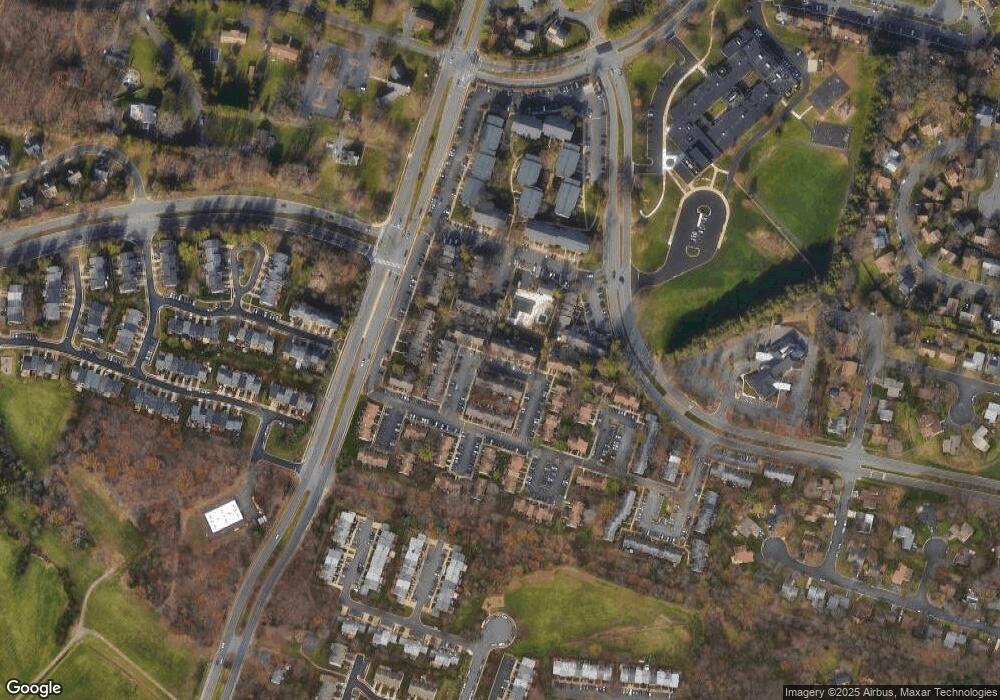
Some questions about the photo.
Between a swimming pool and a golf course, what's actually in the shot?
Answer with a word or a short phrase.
swimming pool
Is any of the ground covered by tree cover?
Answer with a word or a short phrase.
Yes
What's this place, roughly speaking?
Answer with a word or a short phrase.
residential area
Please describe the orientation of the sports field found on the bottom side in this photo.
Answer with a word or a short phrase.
from side to side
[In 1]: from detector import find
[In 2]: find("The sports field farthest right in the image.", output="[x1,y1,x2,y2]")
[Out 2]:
[747,131,847,258]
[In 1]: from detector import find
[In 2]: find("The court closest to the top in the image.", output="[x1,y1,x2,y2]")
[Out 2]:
[810,73,851,113]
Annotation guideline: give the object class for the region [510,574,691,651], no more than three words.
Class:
sports field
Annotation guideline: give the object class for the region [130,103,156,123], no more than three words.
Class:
house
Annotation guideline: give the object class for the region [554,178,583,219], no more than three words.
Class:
building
